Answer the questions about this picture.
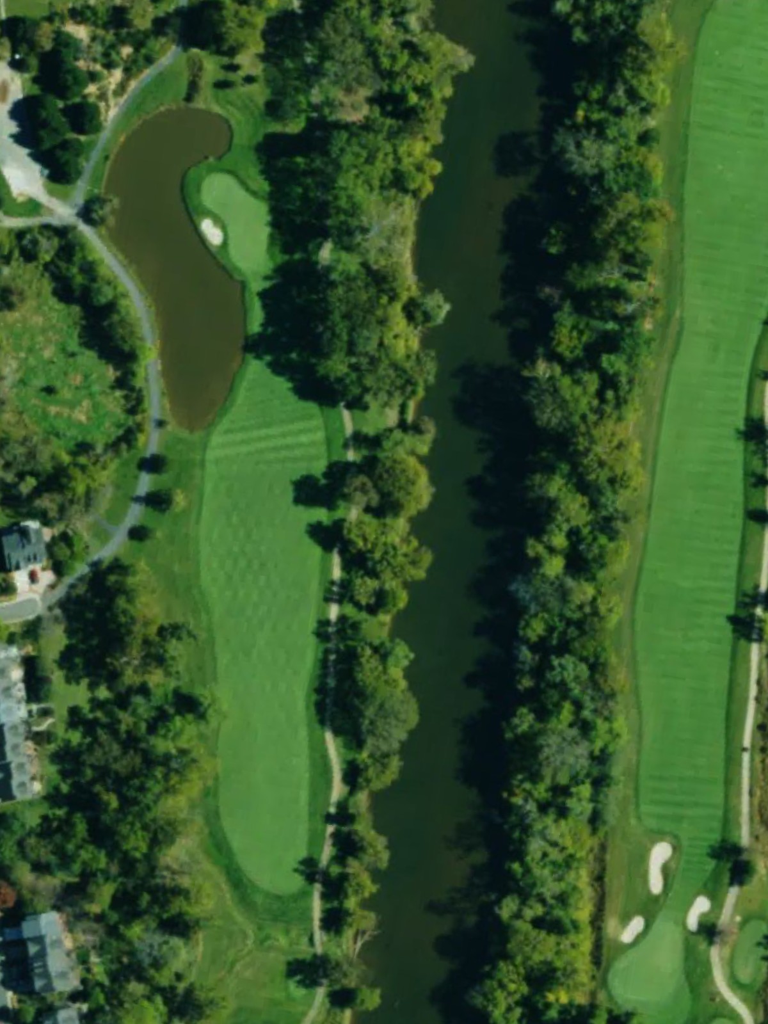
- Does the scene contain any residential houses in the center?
No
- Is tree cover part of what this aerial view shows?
Yes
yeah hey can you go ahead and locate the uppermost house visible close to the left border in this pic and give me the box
[5,525,49,571]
